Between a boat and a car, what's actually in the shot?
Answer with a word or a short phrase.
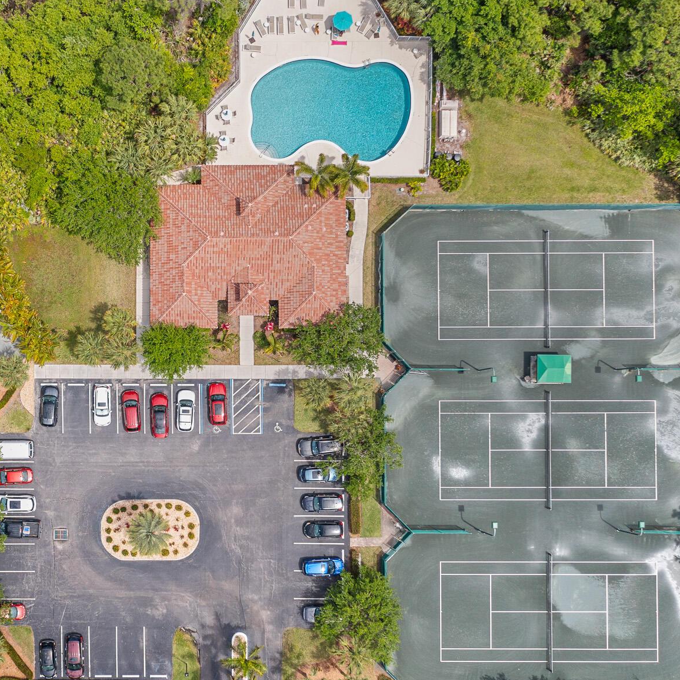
car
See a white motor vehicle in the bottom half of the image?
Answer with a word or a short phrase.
Yes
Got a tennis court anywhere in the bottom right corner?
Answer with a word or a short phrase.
Yes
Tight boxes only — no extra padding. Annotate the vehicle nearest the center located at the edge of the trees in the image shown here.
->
[296,437,342,458]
